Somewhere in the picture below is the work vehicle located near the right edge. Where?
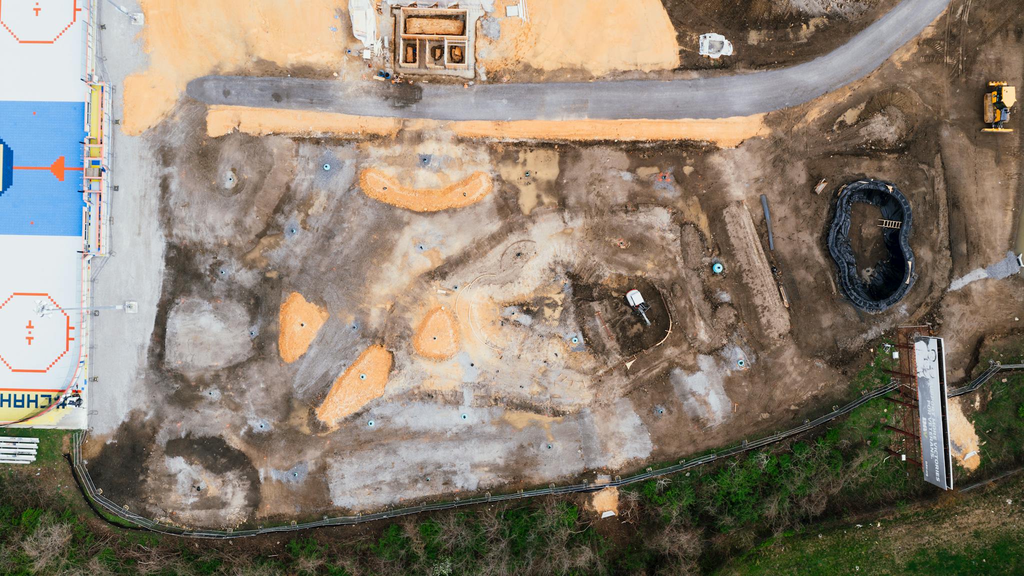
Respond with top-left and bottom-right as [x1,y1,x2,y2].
[976,82,1019,132]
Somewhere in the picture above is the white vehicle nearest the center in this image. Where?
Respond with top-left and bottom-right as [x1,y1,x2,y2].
[623,288,650,326]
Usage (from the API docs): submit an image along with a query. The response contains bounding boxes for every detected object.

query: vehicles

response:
[623,288,650,326]
[976,82,1019,132]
